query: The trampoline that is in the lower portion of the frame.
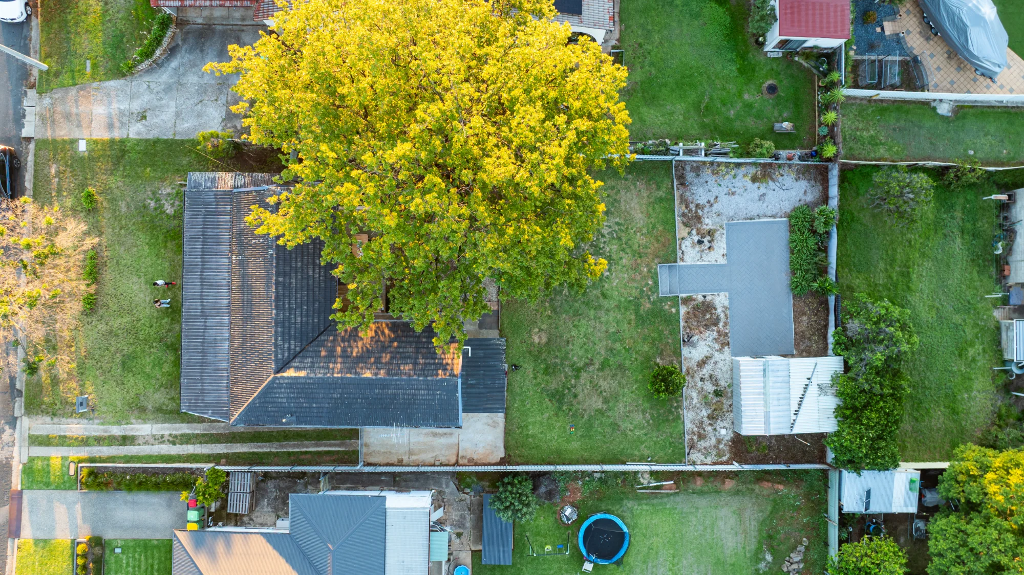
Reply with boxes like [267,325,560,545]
[577,510,631,569]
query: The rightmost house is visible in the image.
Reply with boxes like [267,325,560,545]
[993,309,1024,362]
